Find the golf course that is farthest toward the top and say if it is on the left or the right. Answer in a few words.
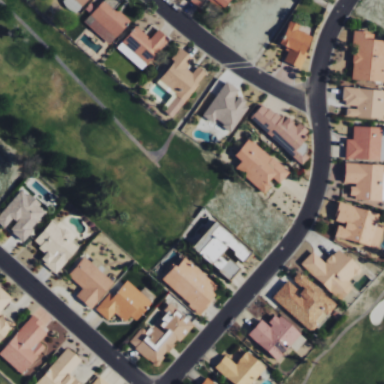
left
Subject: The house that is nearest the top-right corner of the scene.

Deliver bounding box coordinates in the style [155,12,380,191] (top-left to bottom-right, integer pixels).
[353,30,384,82]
